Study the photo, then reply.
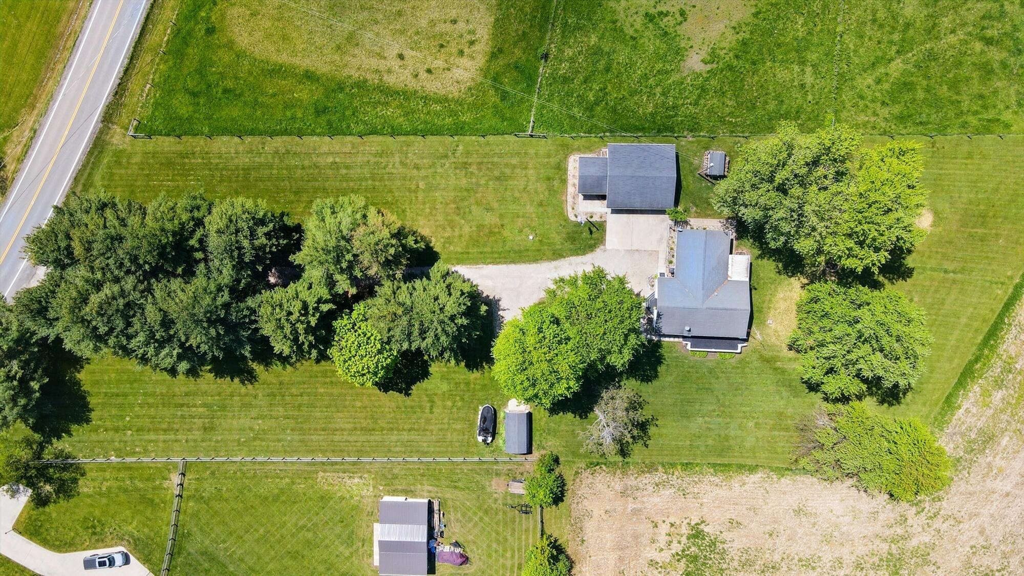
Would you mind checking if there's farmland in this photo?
Yes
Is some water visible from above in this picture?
No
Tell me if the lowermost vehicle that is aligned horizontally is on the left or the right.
left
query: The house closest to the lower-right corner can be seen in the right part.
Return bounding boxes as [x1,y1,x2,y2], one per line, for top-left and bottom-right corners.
[646,229,751,354]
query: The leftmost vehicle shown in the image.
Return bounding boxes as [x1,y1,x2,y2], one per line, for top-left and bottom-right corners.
[83,549,127,569]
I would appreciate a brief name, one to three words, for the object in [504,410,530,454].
shed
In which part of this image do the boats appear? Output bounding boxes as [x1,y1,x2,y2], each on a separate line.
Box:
[477,404,494,450]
